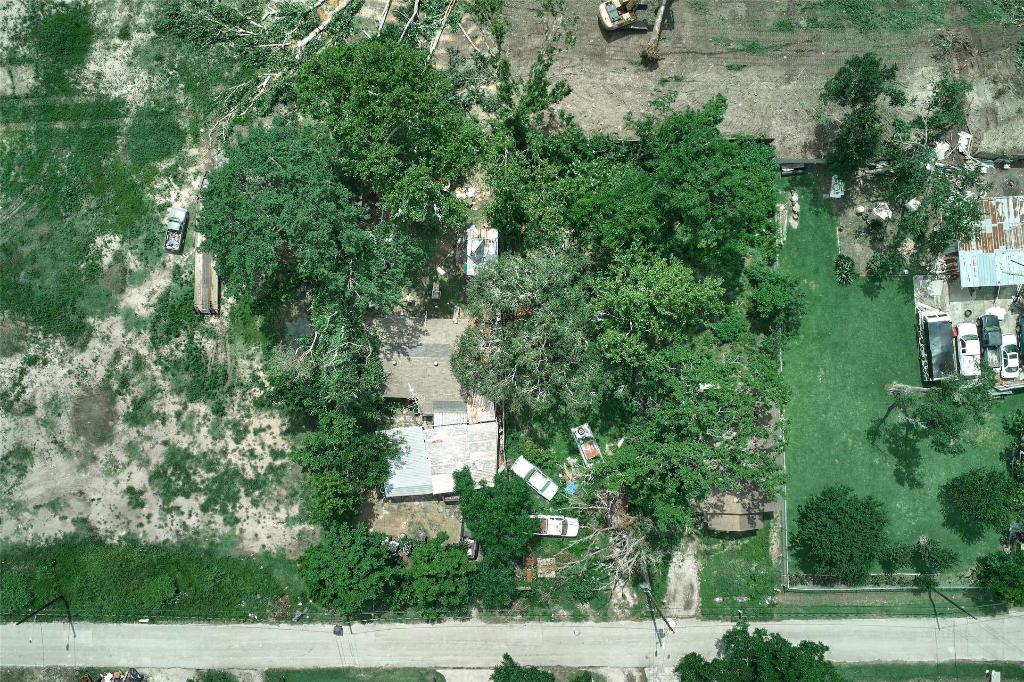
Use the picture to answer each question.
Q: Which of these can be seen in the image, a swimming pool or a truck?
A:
truck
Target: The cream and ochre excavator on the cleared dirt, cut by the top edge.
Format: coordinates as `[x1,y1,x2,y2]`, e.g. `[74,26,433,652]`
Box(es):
[600,0,641,37]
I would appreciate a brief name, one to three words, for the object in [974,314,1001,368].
truck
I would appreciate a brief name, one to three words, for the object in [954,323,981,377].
truck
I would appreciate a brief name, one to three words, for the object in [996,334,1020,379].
car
